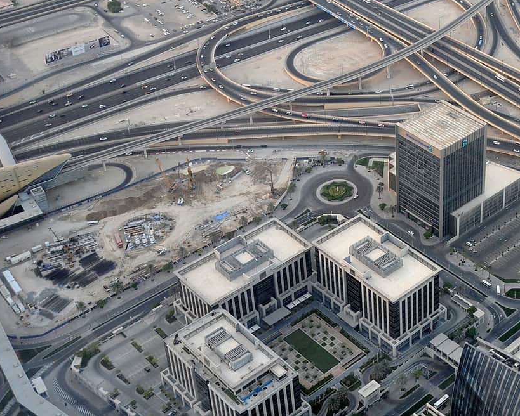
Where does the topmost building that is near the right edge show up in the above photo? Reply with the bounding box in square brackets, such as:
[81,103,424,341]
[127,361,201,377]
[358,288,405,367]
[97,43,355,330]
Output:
[384,102,520,242]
